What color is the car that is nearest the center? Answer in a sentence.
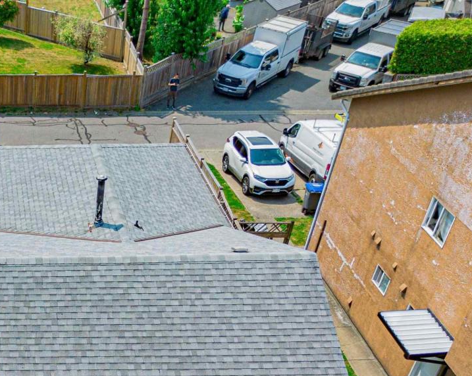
The color of the car that is nearest the center is white.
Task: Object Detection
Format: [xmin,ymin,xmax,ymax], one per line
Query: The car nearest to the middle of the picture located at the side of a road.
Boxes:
[220,126,305,197]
